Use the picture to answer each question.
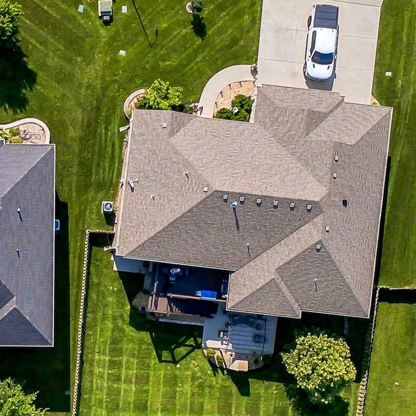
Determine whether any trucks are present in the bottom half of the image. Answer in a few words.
No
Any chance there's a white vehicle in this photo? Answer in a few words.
Yes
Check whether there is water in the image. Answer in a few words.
No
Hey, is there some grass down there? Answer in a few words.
Yes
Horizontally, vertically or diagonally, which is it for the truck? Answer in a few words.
vertically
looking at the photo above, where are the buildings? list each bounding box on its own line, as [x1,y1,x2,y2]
[100,82,396,320]
[0,140,56,348]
